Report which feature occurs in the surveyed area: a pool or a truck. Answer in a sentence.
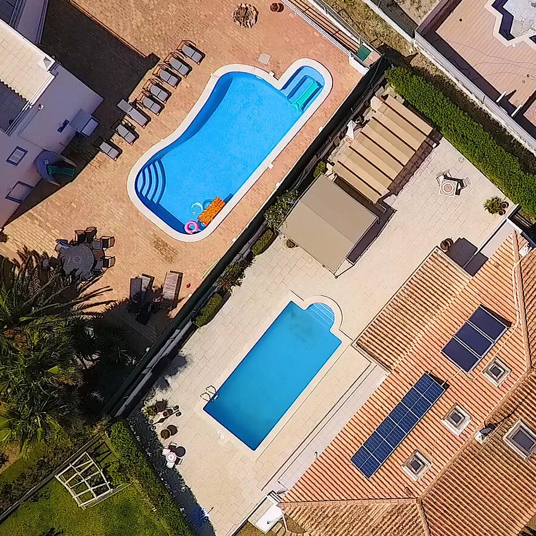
This aerial view contains a pool.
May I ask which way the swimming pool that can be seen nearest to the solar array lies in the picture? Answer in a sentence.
Seen from above, the swimming pool that can be seen nearest to the solar array lies at an angle.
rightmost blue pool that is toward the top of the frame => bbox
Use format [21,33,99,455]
[128,58,332,241]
